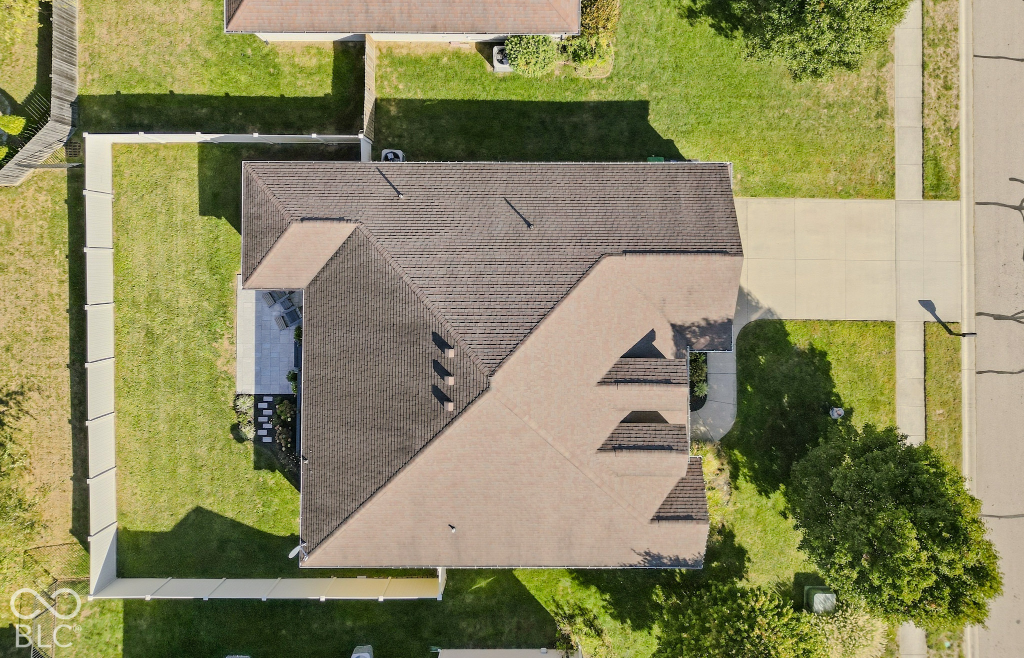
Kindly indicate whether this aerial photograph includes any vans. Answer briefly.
No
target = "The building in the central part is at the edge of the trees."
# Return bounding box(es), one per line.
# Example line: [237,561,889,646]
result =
[242,160,744,570]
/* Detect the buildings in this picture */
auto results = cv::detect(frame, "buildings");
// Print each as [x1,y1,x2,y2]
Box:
[242,160,744,570]
[225,0,581,42]
[434,633,585,658]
